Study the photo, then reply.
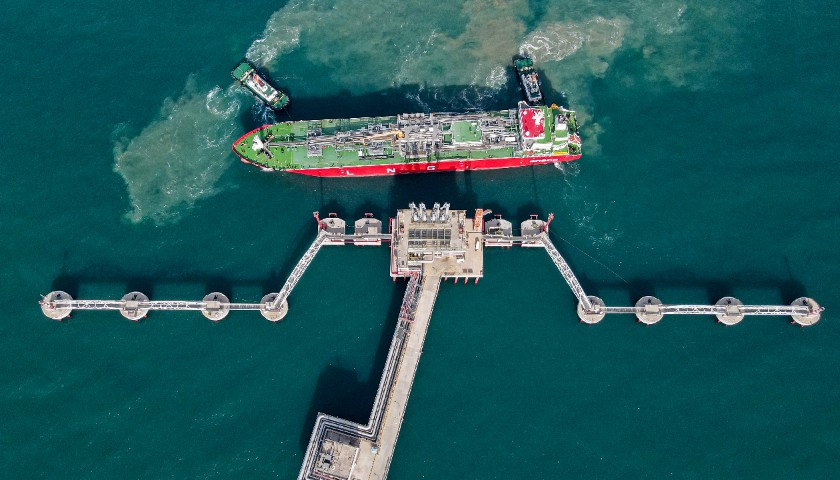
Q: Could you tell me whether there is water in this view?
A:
Yes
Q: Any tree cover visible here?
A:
No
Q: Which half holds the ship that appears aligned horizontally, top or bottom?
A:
top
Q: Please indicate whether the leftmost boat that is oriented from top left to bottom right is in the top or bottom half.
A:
top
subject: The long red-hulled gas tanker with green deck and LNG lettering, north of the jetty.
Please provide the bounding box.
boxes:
[229,101,582,179]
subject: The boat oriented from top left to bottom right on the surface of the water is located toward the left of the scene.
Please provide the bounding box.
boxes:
[233,62,289,109]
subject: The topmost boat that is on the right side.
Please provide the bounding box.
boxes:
[513,57,545,106]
